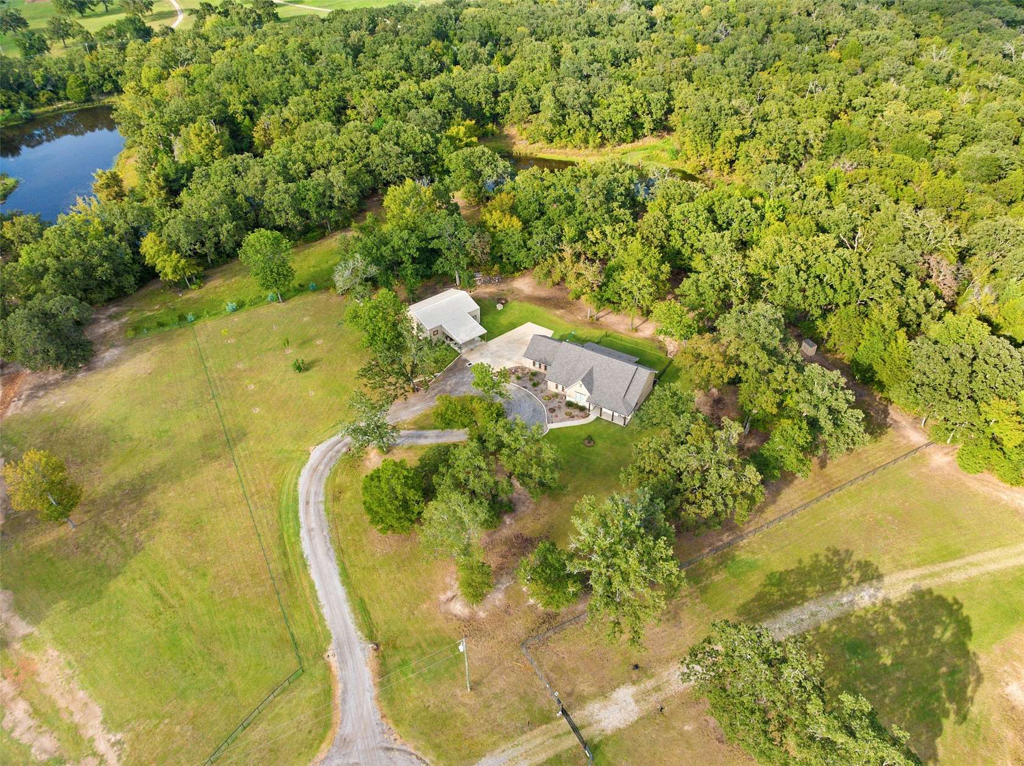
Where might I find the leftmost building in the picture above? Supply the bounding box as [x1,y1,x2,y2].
[405,287,487,354]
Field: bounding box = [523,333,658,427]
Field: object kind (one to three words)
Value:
house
